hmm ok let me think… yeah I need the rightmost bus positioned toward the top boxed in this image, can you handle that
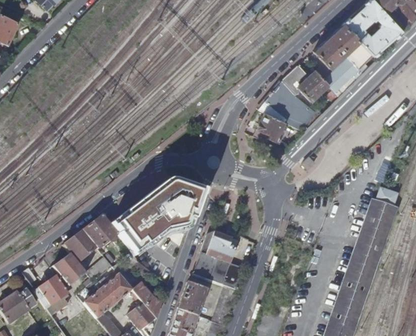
[384,102,409,127]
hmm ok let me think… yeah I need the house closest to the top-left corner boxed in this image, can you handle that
[0,14,20,47]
